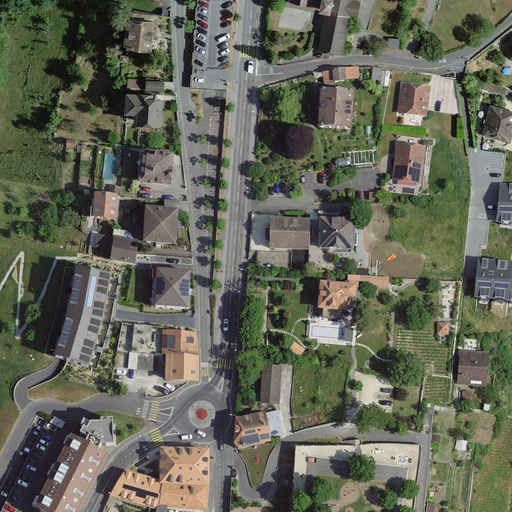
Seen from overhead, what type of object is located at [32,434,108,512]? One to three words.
building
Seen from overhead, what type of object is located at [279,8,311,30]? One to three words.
sports court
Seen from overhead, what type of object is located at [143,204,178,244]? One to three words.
house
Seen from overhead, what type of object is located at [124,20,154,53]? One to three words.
house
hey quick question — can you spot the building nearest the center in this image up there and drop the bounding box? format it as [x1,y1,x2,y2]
[257,251,290,268]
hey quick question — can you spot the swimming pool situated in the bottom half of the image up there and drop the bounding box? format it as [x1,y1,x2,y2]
[308,318,356,345]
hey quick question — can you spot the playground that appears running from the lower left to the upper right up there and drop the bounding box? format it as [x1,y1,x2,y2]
[328,484,364,512]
